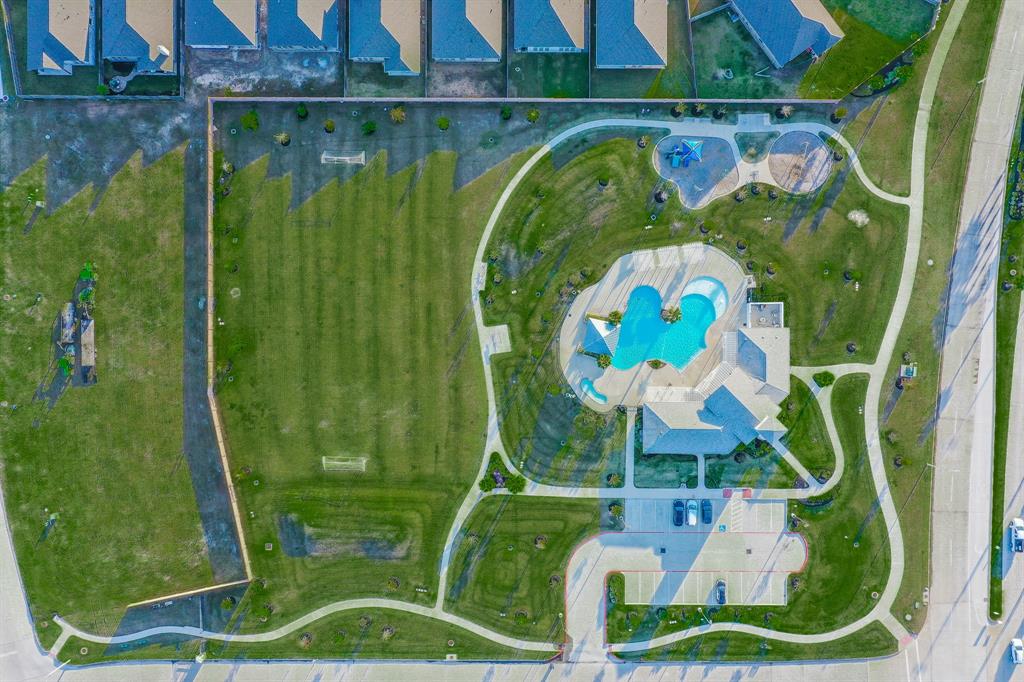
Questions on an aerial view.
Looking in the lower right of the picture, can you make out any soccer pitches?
No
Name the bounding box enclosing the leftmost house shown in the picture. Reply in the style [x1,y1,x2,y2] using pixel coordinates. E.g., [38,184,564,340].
[25,0,97,76]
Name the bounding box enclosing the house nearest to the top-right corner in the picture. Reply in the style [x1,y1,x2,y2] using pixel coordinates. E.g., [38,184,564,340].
[724,0,844,72]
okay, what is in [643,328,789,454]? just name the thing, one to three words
building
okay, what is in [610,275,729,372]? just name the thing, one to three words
swimming pool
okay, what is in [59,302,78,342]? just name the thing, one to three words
trailer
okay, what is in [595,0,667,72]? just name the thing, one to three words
house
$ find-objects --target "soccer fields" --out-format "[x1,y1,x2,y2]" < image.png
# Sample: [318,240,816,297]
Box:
[222,151,469,470]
